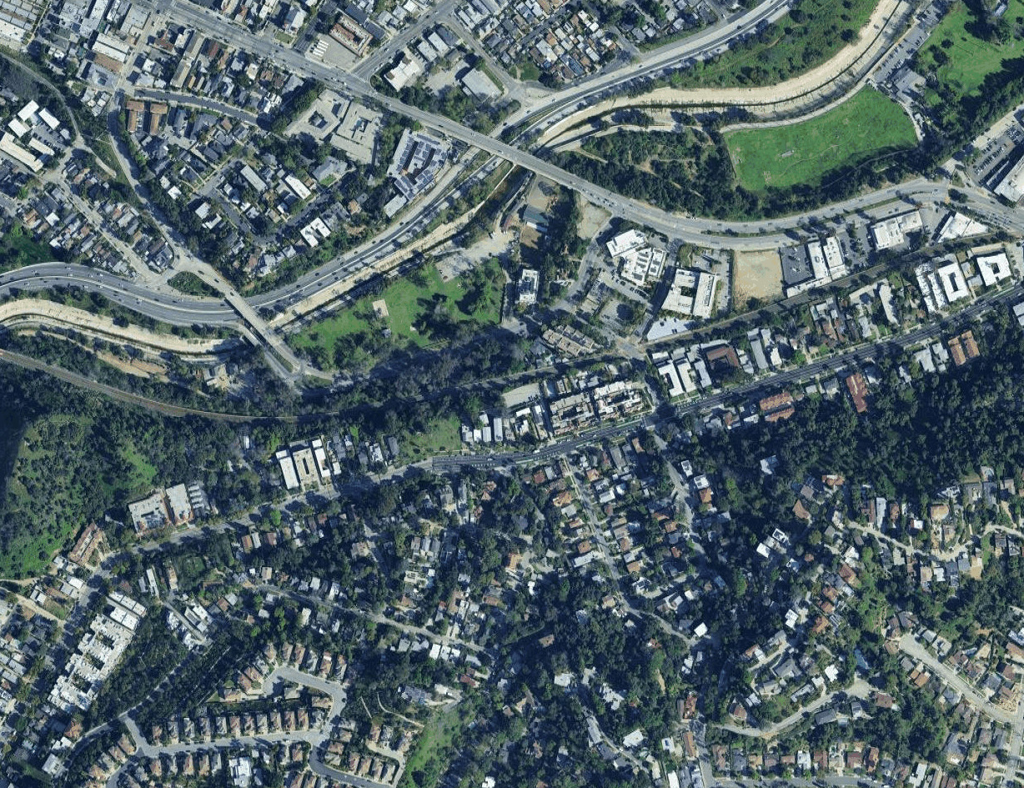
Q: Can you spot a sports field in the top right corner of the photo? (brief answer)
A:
Yes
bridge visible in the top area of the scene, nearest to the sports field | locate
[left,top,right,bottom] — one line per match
[430,112,557,180]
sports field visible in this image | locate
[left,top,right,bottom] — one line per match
[724,88,919,193]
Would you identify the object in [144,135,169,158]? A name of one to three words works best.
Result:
house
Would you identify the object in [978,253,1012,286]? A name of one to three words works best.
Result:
building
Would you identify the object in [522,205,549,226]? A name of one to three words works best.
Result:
barn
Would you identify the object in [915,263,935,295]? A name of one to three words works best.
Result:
building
